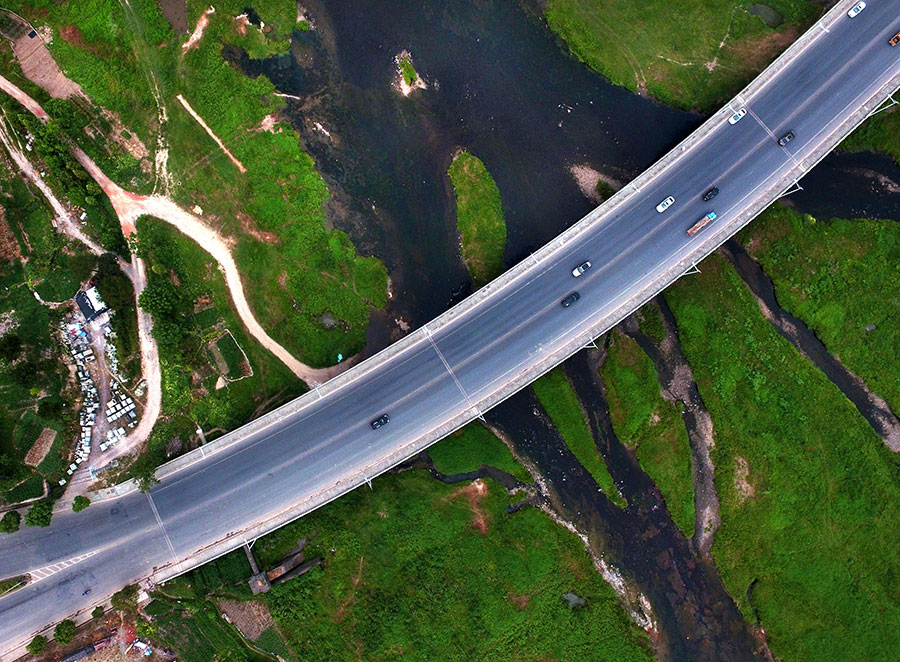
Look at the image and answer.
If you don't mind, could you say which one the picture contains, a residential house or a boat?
residential house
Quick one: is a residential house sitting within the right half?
No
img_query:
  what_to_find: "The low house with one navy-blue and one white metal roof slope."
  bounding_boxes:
[70,286,104,322]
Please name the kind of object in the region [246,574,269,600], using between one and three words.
building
